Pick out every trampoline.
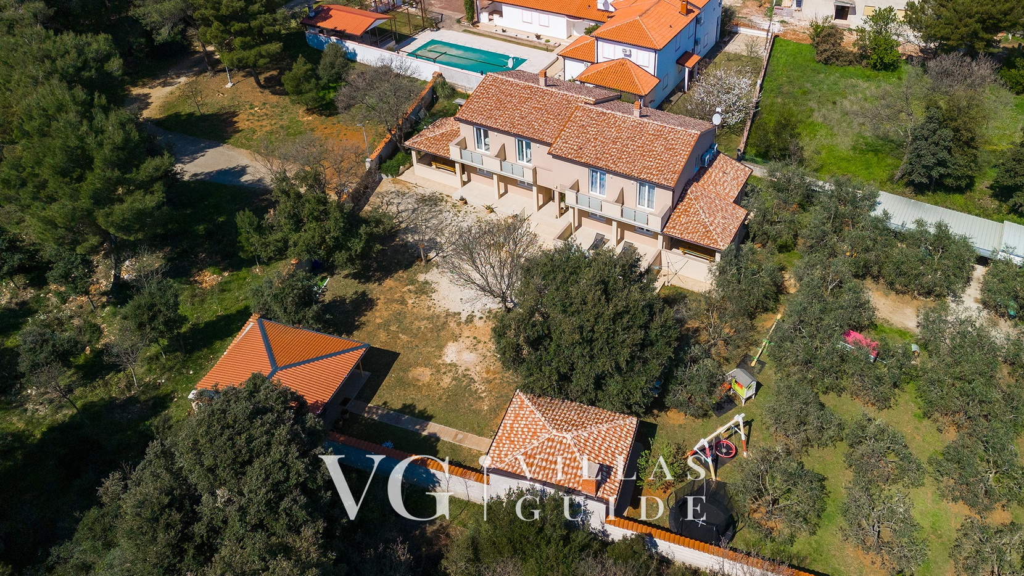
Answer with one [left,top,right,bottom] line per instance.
[669,484,734,546]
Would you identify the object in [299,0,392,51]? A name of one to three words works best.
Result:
building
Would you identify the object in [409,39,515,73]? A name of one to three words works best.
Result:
swimming pool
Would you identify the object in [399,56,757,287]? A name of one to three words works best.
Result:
house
